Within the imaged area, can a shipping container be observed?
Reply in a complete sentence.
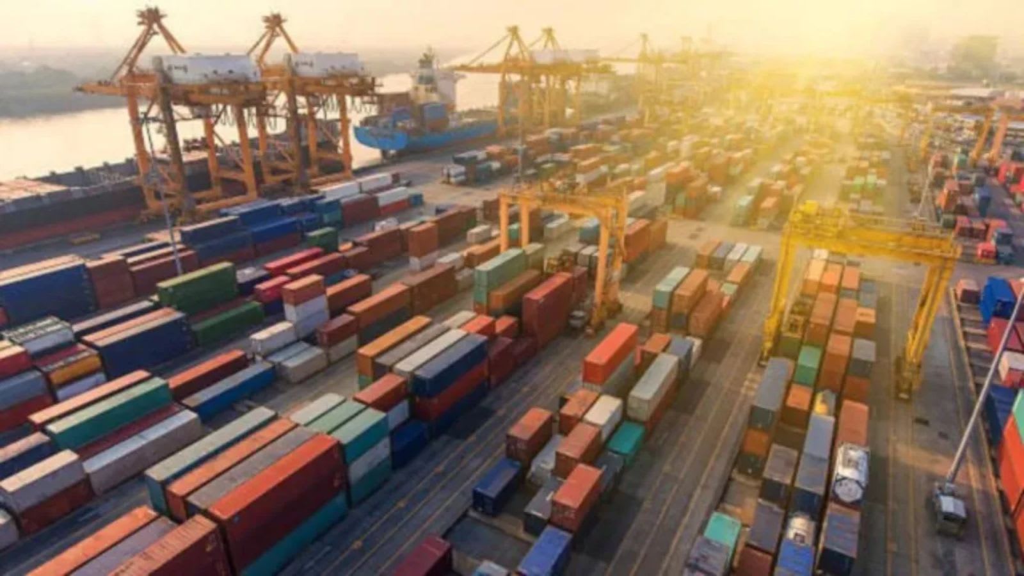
Yes, a shipping container appears in the view.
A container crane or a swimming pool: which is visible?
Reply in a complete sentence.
There is a container crane in the scene.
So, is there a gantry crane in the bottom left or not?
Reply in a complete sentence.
No, the scene shows no gantry crane in the bottom left.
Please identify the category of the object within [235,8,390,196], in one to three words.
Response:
container crane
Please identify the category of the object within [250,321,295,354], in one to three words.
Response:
shipping container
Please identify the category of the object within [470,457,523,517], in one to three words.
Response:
shipping container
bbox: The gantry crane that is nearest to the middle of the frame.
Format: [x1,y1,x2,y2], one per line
[498,180,630,332]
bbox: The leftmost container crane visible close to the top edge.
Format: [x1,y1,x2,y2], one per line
[58,0,283,224]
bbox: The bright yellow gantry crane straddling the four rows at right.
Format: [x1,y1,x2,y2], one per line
[761,202,949,396]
